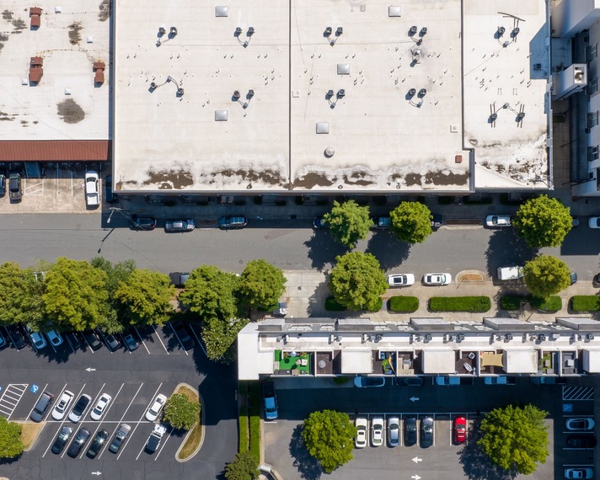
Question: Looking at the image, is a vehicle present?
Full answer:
Yes, there is a vehicle in the image.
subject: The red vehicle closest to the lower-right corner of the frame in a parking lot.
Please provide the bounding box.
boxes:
[454,416,467,444]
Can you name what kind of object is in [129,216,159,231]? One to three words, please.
car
